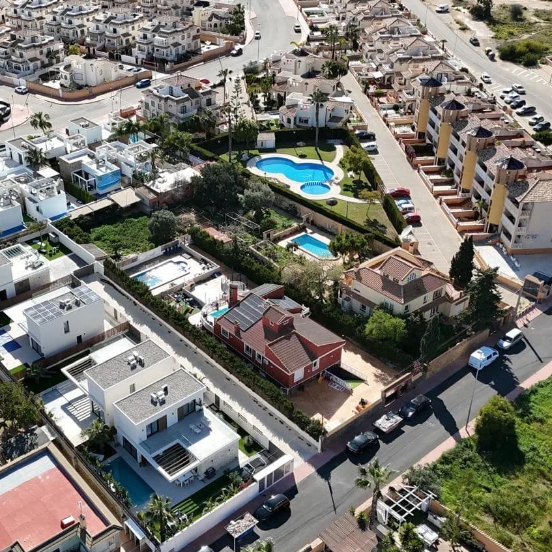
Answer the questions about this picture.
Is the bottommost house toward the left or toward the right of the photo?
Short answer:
left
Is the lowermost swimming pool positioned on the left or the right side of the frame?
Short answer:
left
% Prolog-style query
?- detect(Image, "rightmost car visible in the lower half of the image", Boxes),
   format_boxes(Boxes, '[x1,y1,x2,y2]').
[499,325,523,346]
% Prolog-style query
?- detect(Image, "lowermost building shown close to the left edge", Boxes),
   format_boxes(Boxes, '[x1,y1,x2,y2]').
[0,442,129,552]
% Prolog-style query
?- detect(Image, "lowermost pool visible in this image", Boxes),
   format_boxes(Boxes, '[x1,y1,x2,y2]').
[106,449,157,504]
